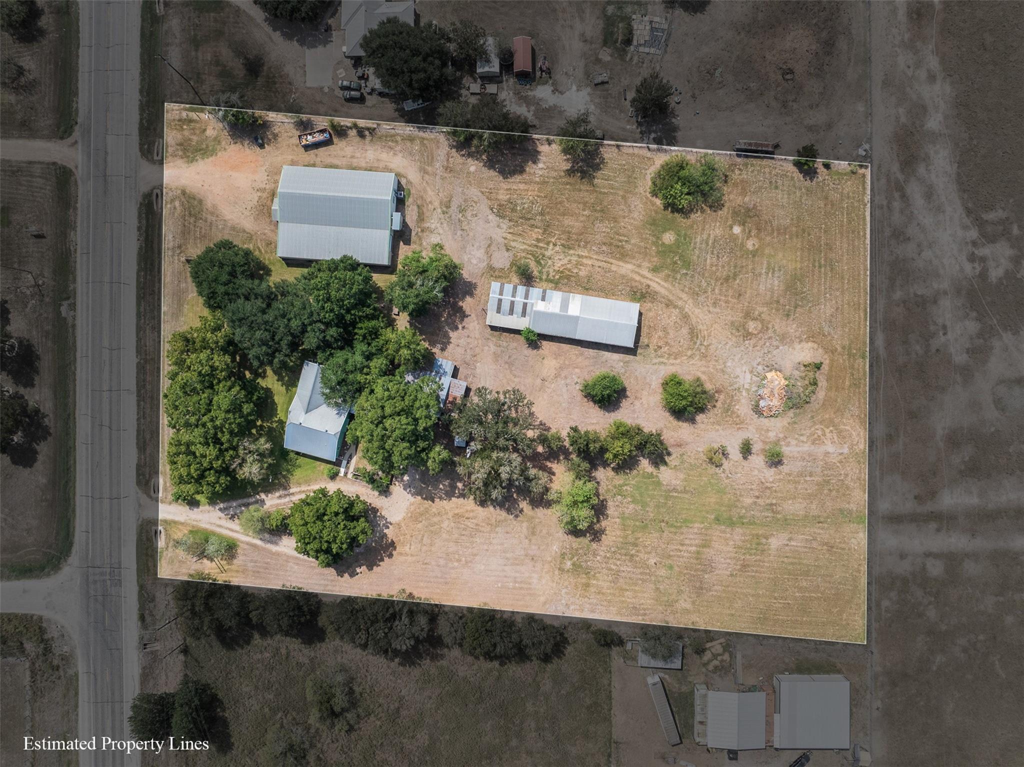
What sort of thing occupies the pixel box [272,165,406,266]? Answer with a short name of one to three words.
barn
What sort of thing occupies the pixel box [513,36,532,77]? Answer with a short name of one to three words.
shed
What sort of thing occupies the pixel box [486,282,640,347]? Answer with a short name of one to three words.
shed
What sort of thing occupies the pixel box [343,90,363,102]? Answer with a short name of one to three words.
vehicle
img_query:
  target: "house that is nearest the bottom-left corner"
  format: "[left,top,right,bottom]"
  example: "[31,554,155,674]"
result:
[284,360,361,462]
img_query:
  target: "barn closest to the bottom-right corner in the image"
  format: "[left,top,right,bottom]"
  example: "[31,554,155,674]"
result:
[772,672,851,749]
